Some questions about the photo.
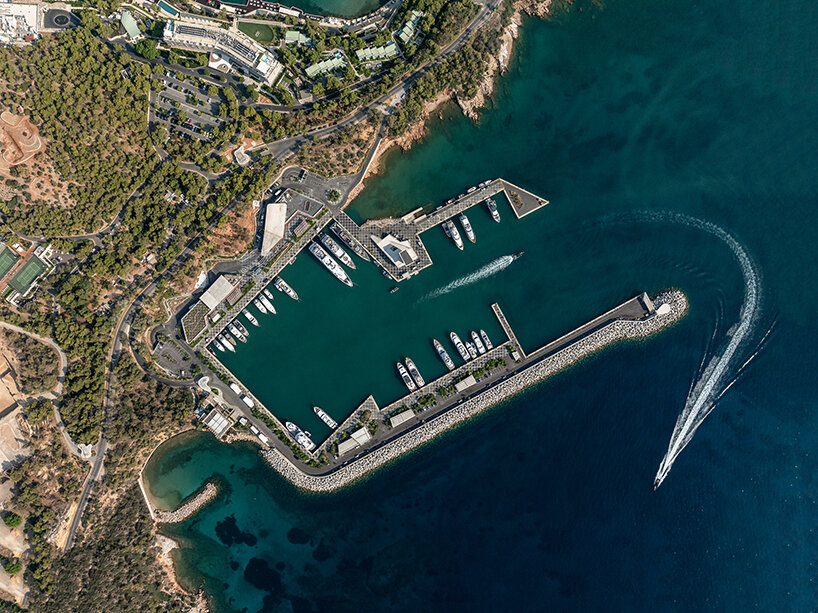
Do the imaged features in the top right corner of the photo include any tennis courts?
No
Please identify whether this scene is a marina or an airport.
marina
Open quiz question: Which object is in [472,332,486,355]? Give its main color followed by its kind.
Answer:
white boat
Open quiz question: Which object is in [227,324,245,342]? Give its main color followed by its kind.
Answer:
white boat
